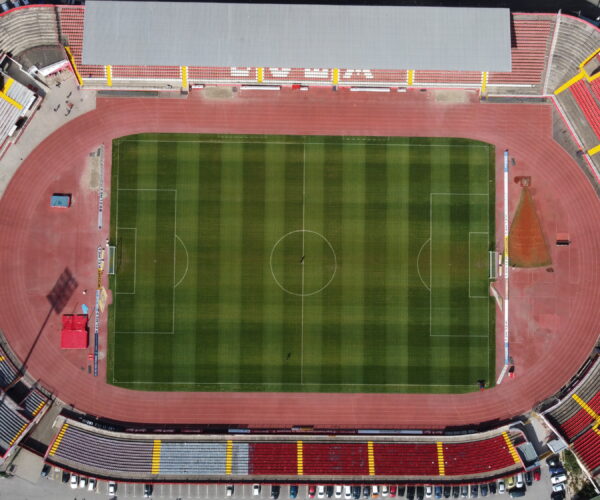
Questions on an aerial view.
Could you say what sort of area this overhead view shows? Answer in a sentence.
The area seen from above is a sports ground.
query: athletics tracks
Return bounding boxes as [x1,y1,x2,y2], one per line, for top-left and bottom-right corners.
[0,87,600,429]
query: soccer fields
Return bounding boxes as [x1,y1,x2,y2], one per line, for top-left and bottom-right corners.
[107,132,496,394]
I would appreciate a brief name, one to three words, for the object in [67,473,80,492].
vehicle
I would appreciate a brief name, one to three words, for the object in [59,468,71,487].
vehicle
